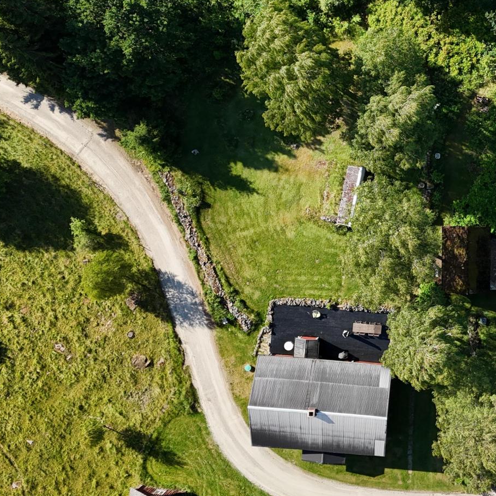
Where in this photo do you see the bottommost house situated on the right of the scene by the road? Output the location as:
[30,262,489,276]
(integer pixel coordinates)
[247,335,393,468]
